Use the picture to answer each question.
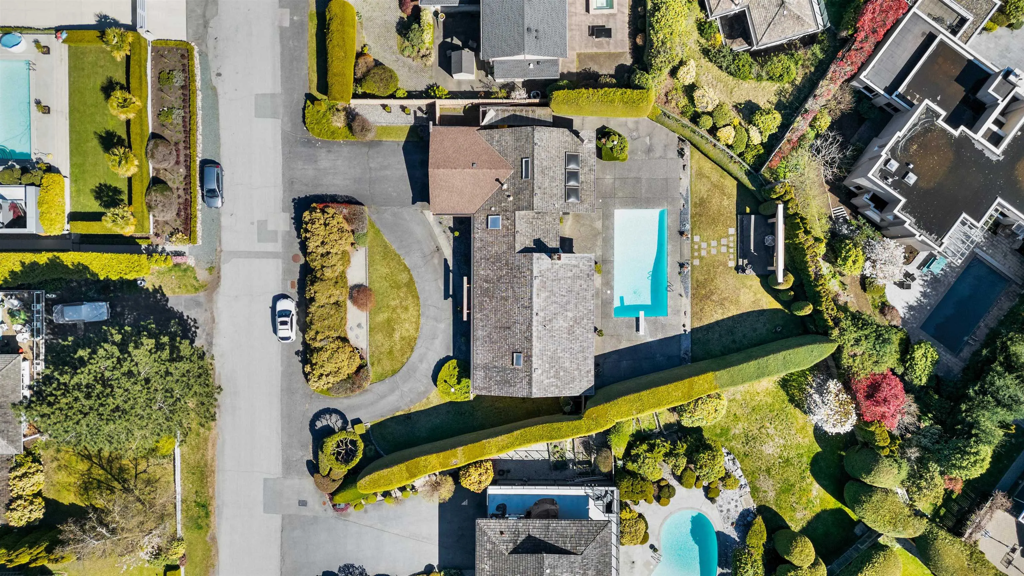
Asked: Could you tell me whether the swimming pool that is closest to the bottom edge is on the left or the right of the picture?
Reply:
right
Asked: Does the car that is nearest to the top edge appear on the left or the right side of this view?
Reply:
left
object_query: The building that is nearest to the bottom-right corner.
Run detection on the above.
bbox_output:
[984,460,1024,540]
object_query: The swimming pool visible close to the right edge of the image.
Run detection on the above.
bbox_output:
[914,253,1014,362]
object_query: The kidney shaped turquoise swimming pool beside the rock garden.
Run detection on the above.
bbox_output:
[646,507,721,576]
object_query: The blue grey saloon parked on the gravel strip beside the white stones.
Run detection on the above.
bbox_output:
[201,162,225,209]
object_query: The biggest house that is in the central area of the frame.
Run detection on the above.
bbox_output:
[428,121,596,398]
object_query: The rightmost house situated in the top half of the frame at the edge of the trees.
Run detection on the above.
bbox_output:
[835,0,1024,253]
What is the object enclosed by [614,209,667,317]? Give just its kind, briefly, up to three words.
swimming pool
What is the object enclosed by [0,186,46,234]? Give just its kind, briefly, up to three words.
building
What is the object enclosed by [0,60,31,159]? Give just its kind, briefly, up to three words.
swimming pool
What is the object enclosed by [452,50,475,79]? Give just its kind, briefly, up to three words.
shed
